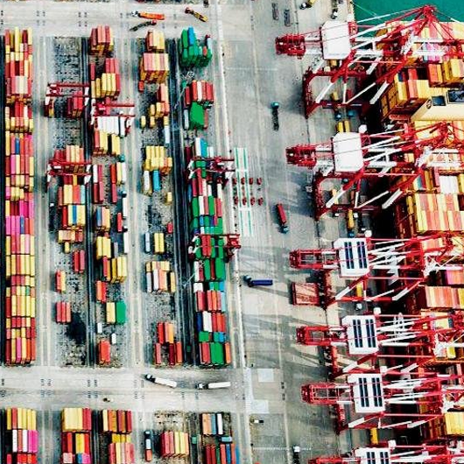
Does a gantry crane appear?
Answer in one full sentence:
Yes, there's a gantry crane here.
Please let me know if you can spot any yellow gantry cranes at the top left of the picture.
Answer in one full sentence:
No, looking at the top left of the picture, there is no yellow gantry crane.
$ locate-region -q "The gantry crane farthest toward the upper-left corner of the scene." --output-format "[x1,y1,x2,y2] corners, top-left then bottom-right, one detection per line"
[43,82,89,117]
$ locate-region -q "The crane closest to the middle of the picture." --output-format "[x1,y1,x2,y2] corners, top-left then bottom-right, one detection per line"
[186,232,239,265]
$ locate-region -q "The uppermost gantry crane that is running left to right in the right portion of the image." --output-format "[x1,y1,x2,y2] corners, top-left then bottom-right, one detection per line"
[275,3,464,106]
